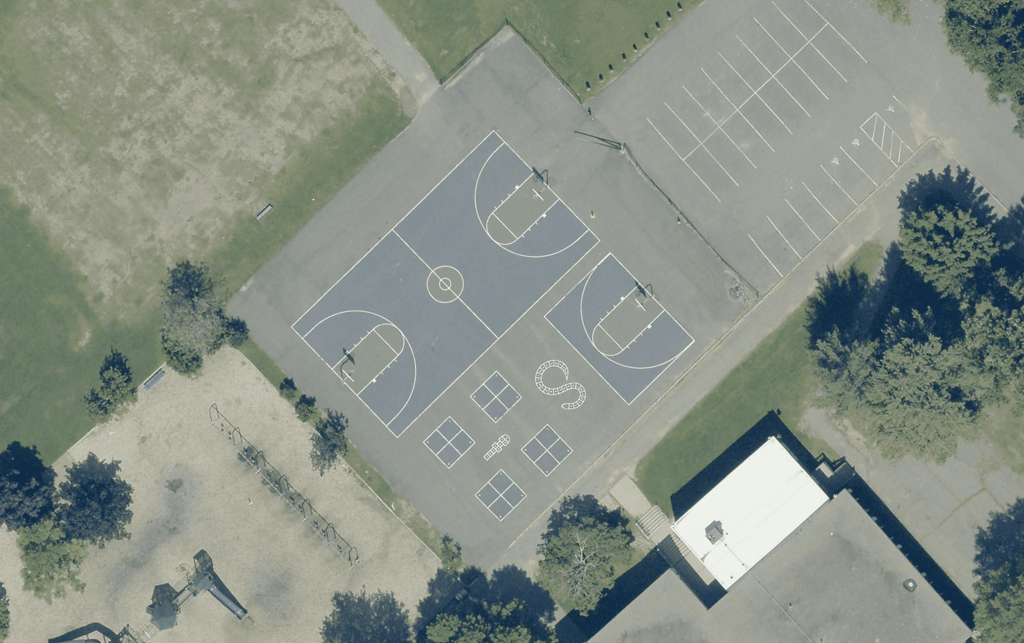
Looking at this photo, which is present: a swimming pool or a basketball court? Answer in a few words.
basketball court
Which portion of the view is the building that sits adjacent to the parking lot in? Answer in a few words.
bottom right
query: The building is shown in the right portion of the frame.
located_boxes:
[587,427,975,643]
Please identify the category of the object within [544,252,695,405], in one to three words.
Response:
basketball court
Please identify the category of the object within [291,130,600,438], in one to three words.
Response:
basketball court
